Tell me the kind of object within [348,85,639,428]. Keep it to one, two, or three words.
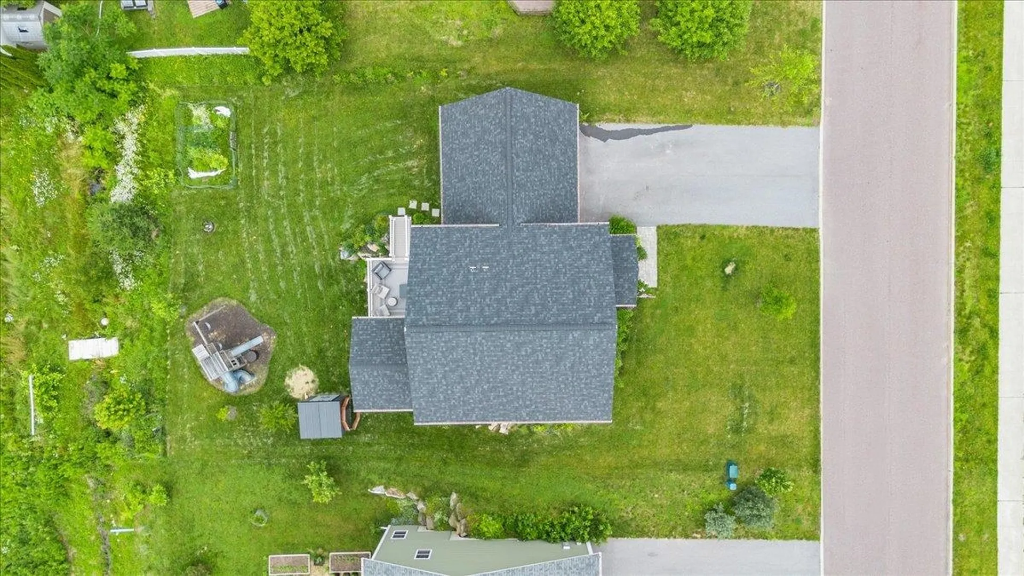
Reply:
house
